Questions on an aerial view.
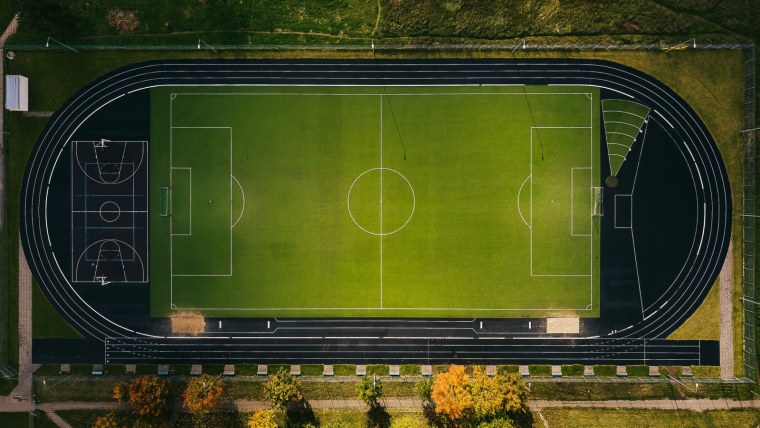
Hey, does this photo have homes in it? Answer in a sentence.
No, I can't see a single home in this photo.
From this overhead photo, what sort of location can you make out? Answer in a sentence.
The picture captures a sports ground.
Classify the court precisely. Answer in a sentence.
Specifically, the court is a basketball court.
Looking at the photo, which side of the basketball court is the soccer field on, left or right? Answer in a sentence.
Relative to the basketball court, the soccer field lies to the right.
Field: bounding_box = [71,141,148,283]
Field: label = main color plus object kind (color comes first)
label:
black basketball court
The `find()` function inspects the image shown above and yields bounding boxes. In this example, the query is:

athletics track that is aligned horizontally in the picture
[20,59,731,366]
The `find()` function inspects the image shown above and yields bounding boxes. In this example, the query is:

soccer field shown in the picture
[150,87,600,317]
